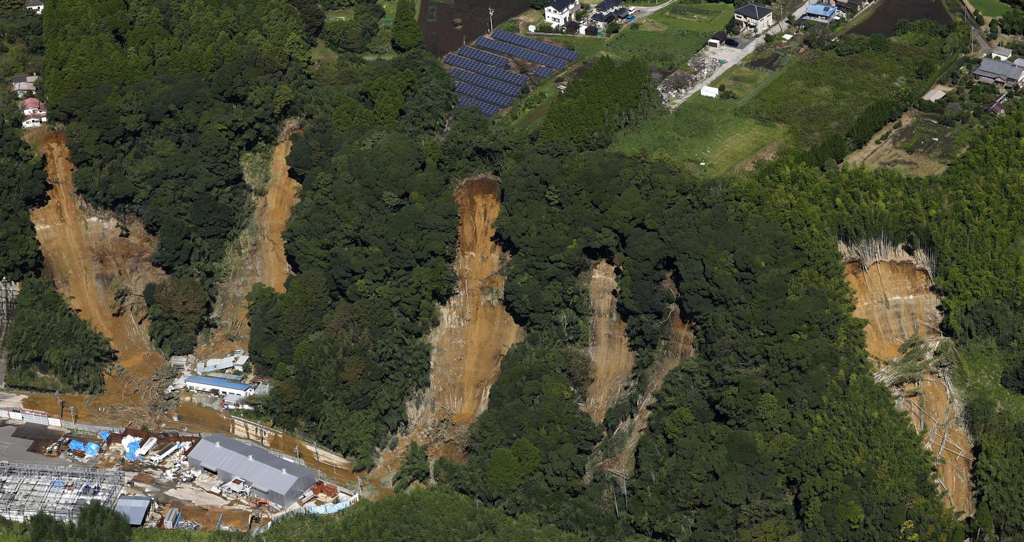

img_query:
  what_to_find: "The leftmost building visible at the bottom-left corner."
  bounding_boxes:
[0,461,126,522]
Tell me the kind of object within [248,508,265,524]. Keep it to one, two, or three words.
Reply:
work vehicle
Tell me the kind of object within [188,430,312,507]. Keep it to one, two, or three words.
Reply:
building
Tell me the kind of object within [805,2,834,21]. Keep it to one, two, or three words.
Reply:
house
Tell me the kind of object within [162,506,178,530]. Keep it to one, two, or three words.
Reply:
vehicle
